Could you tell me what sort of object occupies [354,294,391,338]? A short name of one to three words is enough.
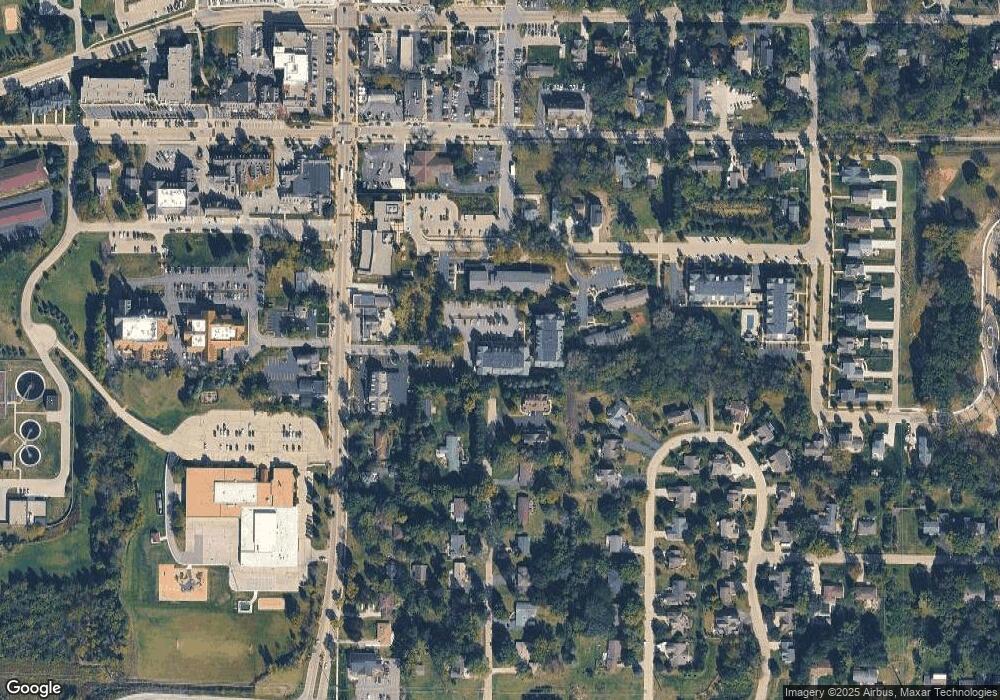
building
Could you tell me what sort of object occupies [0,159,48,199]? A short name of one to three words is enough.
barn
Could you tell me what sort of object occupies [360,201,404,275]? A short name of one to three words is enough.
building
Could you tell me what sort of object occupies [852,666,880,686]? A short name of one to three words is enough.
house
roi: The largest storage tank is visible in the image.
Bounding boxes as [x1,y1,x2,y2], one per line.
[16,371,45,400]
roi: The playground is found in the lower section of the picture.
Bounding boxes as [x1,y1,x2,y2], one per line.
[159,563,208,601]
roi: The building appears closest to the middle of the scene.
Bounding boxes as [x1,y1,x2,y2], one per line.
[474,345,532,377]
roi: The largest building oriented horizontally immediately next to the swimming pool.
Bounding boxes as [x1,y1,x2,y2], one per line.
[688,273,753,304]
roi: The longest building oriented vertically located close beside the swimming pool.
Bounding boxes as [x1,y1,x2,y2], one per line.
[766,276,798,343]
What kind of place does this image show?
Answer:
residential area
